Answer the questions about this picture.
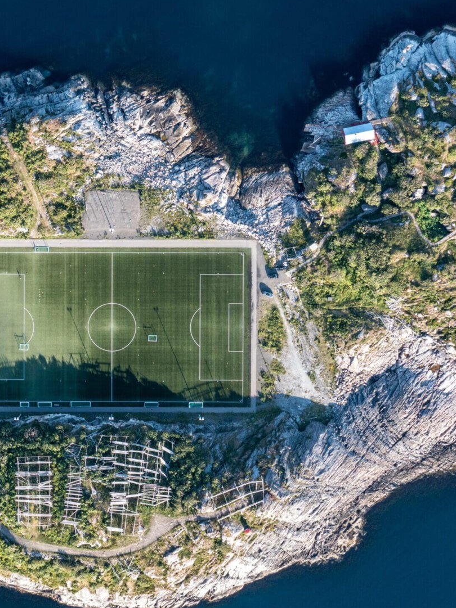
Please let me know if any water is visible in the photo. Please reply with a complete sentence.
Yes, the picture does contain water.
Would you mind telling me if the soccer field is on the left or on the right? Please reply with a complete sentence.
The soccer field is on the left side of the image.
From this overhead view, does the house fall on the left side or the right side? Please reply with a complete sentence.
The house sits on the right side.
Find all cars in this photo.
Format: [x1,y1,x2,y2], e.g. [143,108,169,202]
[268,273,279,279]
[262,289,274,299]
